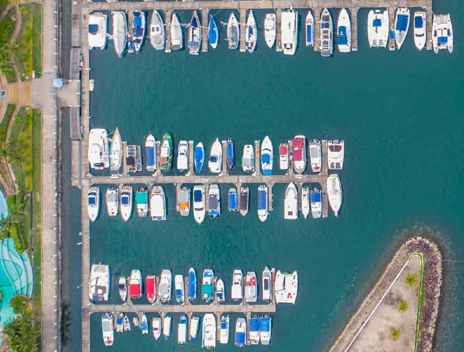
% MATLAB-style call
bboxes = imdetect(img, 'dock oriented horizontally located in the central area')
[89,140,330,218]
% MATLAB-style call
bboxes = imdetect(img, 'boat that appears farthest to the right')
[432,14,452,52]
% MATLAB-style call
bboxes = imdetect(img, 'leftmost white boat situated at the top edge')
[88,12,108,50]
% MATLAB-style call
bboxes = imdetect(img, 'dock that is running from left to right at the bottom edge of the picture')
[89,268,278,345]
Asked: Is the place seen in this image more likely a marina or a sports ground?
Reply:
marina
